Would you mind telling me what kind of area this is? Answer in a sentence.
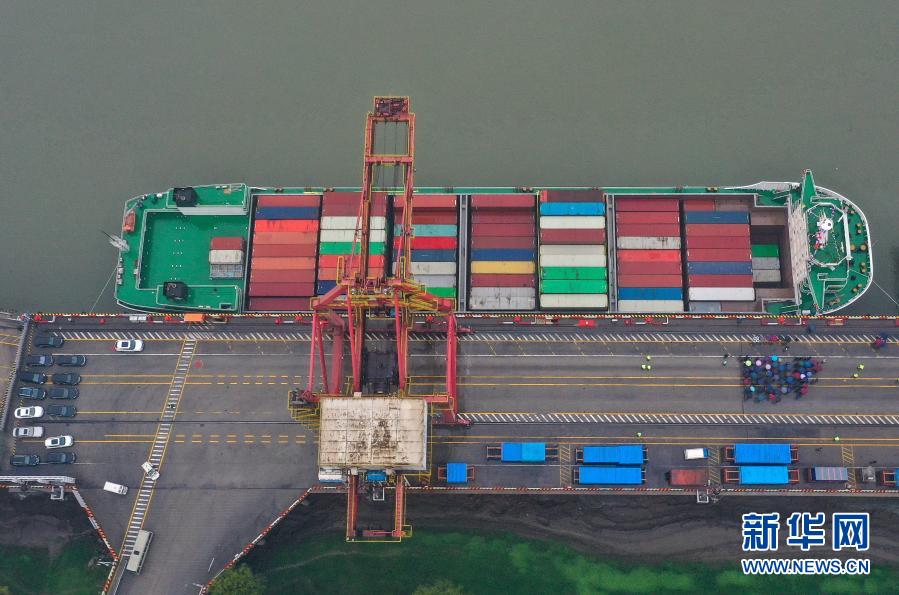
It's a port.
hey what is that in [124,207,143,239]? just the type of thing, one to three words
boat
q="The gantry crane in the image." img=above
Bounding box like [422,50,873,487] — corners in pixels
[287,96,476,541]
